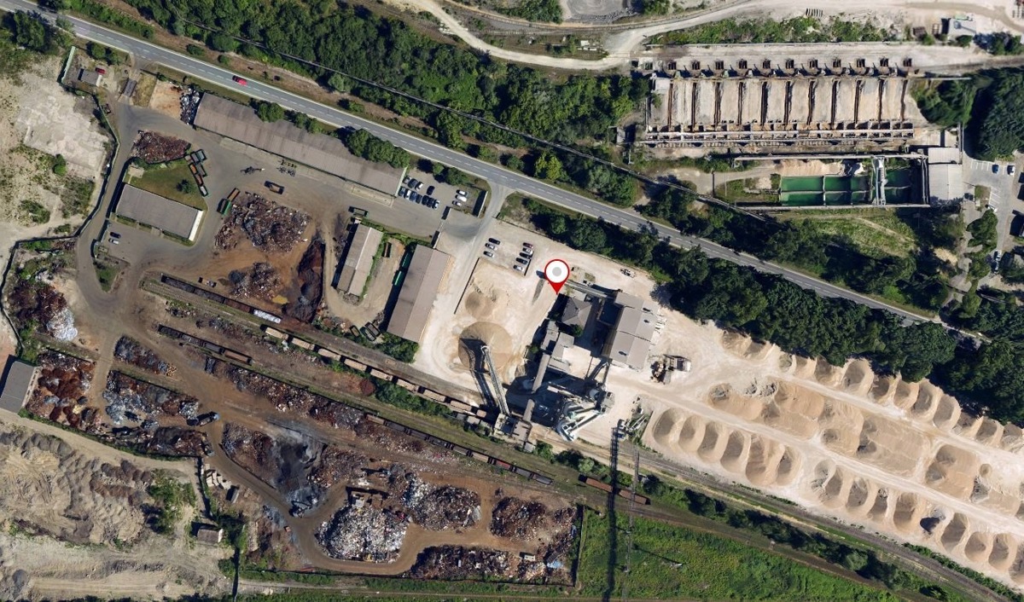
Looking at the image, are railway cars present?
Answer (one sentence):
Yes, there's a railway car down there.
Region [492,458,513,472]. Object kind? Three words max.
rail car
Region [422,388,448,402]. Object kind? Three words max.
rail car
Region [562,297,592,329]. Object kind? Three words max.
house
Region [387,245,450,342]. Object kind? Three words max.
shed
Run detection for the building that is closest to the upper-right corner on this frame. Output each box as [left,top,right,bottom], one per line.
[943,13,976,36]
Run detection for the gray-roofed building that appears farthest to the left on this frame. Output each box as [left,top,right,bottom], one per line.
[0,359,41,414]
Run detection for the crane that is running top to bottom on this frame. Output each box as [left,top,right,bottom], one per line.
[872,157,888,206]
